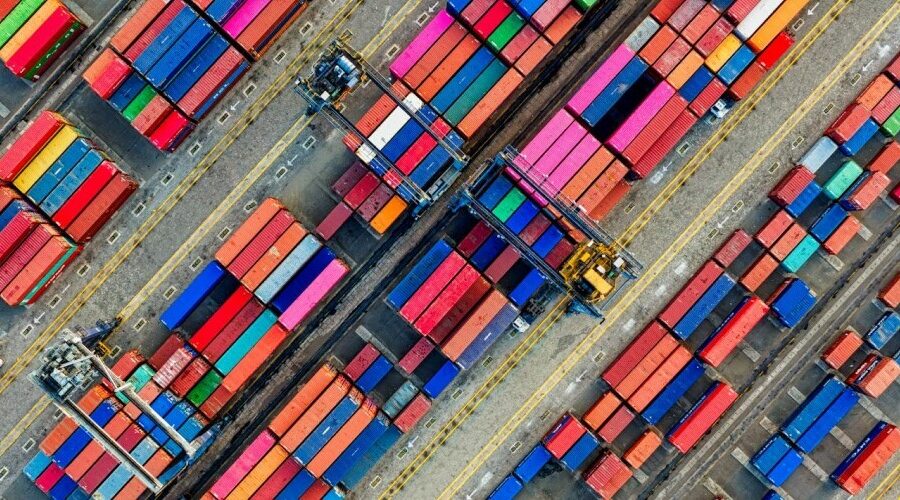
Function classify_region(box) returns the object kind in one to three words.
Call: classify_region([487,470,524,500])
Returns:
shipping container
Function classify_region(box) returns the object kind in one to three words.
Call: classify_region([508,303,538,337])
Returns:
truck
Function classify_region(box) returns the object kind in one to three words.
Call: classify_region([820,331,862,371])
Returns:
shipping container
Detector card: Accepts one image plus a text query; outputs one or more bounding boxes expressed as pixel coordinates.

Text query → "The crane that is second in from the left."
[286,34,477,221]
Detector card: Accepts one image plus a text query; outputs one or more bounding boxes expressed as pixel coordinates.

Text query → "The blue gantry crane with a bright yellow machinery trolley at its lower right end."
[446,131,655,324]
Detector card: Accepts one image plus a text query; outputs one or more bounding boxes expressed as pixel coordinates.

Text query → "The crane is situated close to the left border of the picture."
[11,308,239,500]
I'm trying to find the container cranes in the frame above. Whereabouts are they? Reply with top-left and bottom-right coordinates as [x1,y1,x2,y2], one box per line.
[11,308,239,500]
[446,131,655,324]
[286,34,477,221]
